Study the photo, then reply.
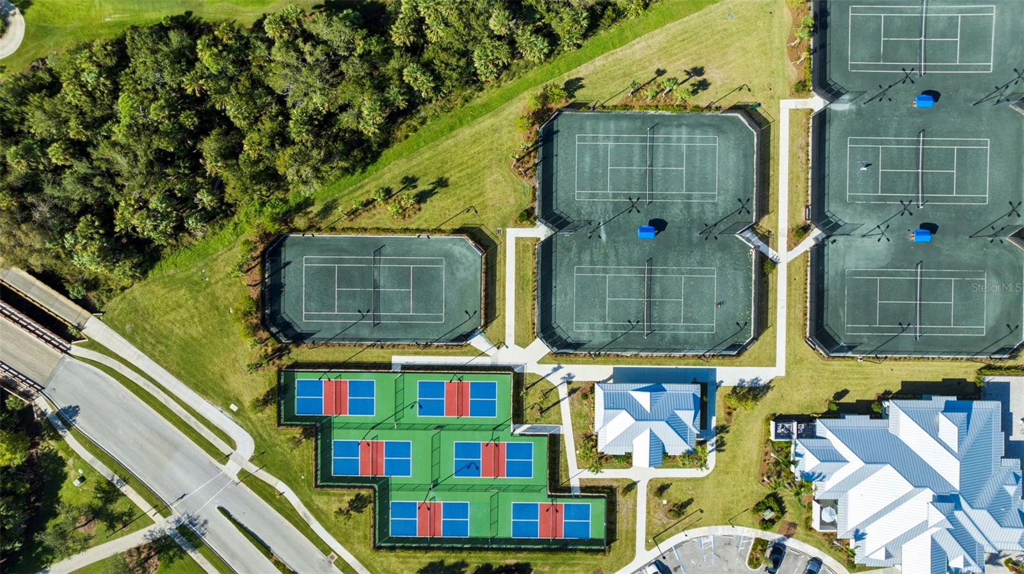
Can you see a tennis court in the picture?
Yes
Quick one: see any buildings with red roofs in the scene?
No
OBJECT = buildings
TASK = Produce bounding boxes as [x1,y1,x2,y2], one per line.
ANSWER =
[791,395,1024,574]
[594,383,701,470]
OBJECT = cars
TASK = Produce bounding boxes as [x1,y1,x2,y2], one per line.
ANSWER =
[805,558,822,574]
[646,565,661,574]
[768,544,786,574]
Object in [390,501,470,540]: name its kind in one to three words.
sports court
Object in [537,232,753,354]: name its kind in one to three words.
tennis court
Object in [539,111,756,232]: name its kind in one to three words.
tennis court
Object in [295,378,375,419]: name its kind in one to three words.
sports court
